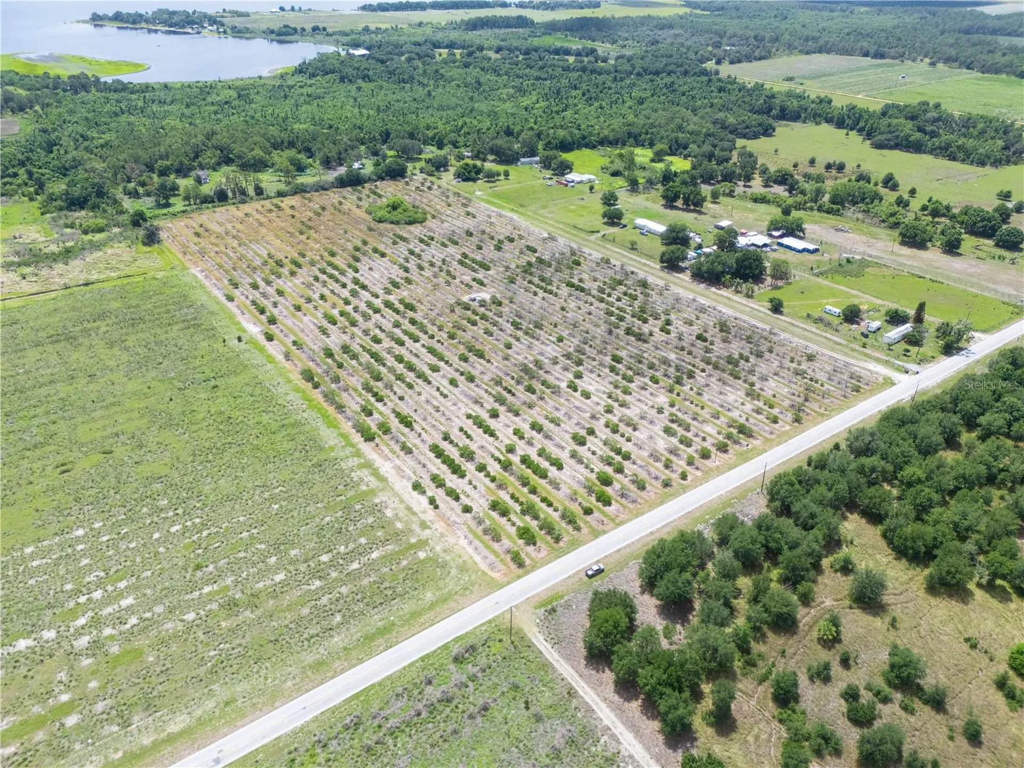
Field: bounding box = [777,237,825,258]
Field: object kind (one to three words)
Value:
house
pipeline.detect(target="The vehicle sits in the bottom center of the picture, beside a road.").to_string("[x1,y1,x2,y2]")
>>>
[585,563,605,577]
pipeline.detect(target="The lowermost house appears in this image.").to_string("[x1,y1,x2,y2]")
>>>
[883,320,917,344]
